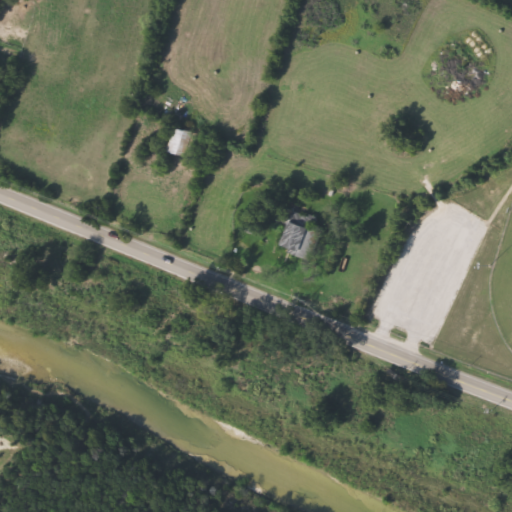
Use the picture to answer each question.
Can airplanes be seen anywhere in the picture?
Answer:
No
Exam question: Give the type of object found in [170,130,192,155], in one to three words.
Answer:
barn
